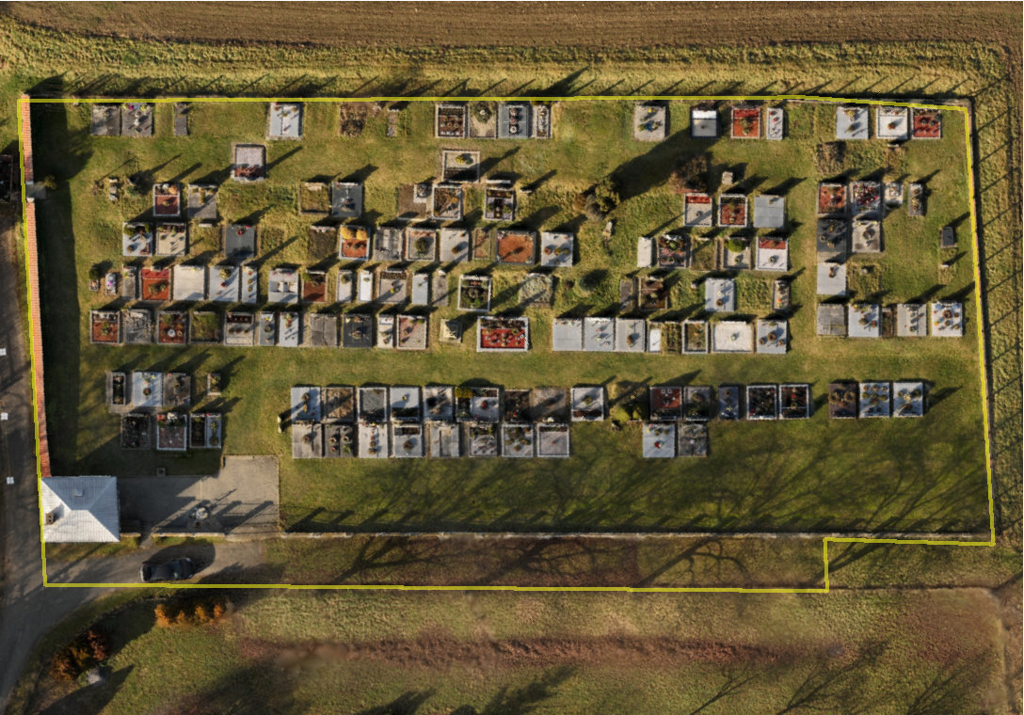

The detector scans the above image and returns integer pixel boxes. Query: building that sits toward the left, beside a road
[38,476,116,544]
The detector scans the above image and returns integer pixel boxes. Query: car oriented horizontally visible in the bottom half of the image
[139,557,194,583]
